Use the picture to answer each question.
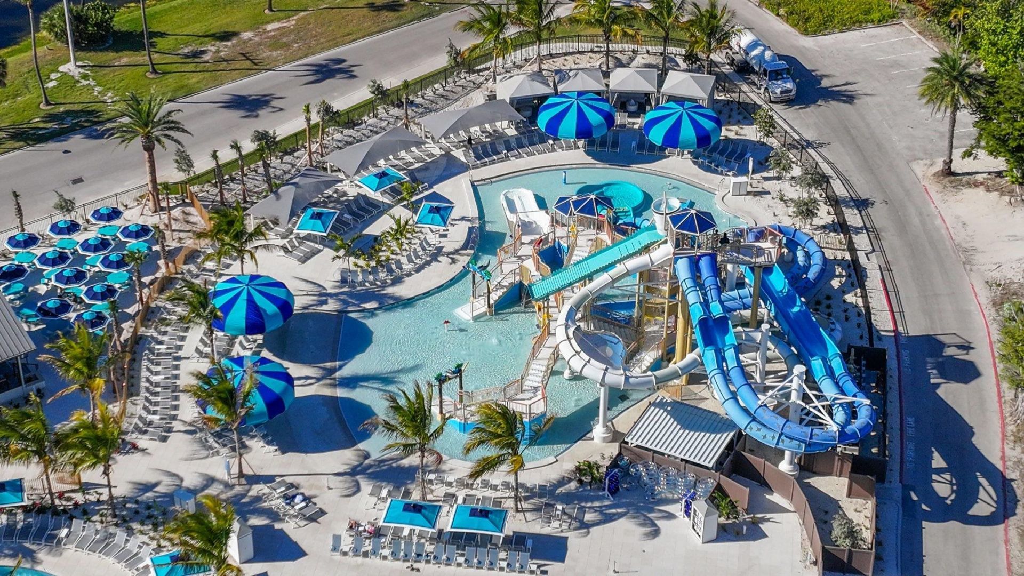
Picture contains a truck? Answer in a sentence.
Yes, this view includes a truck.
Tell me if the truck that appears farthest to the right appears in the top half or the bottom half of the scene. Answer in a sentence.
Seen from above, the truck that appears farthest to the right lies in the top half of the view.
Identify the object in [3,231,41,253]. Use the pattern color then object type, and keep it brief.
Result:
blue umbrella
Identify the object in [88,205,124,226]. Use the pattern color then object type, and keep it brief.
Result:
blue umbrella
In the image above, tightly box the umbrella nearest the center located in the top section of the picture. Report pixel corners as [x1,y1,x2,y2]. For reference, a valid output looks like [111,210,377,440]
[415,202,455,242]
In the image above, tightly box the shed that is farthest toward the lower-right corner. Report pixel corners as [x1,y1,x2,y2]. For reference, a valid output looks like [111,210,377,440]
[690,496,720,544]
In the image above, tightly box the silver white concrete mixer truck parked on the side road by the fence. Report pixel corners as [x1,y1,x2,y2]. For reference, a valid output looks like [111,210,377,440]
[725,21,800,106]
